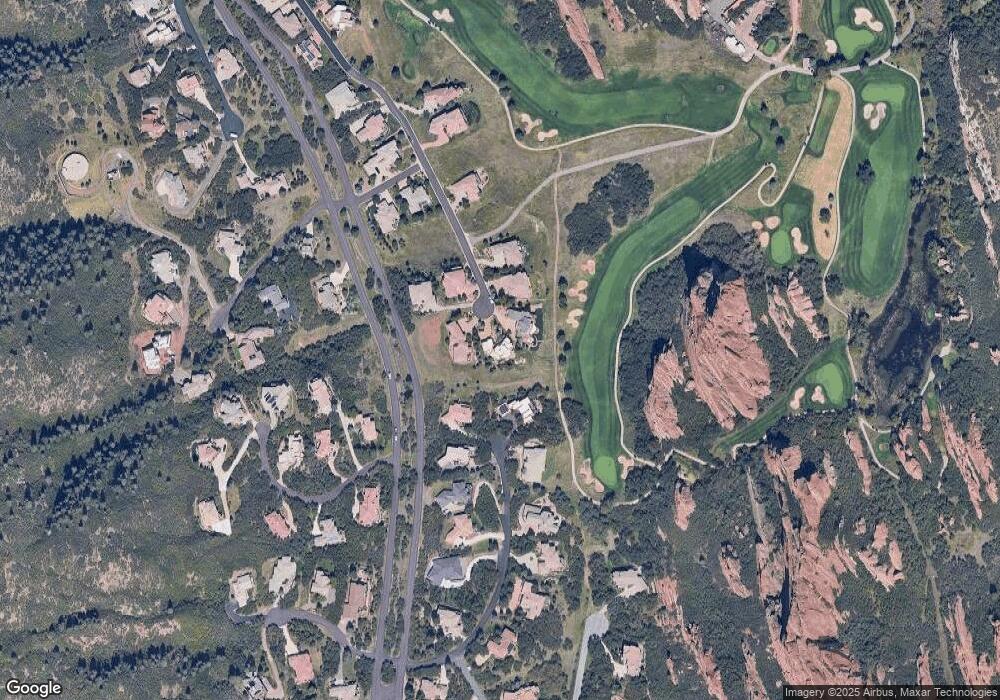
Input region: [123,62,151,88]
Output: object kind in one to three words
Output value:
house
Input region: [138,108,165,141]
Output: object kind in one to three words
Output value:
building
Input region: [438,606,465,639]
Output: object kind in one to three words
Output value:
house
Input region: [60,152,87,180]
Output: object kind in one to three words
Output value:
water tank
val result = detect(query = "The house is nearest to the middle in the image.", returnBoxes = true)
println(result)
[480,335,516,362]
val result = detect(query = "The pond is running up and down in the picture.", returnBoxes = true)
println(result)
[865,201,942,401]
